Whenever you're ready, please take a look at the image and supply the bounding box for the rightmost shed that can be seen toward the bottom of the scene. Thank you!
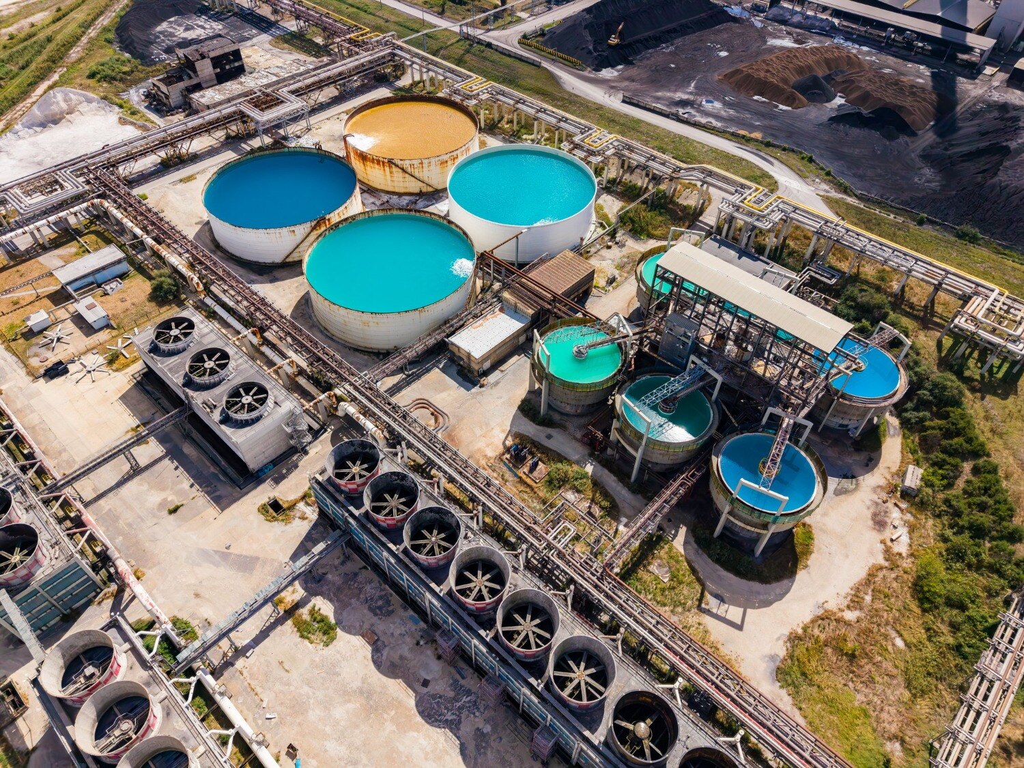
[902,466,927,502]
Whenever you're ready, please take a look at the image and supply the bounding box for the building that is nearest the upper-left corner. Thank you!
[149,32,250,106]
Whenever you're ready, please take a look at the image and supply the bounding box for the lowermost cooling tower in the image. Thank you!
[25,612,230,768]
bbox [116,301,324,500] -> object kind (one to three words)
cooling tower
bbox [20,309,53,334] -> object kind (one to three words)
shed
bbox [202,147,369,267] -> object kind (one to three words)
storage tank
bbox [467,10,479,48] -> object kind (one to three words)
pylon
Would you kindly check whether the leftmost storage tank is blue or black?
blue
